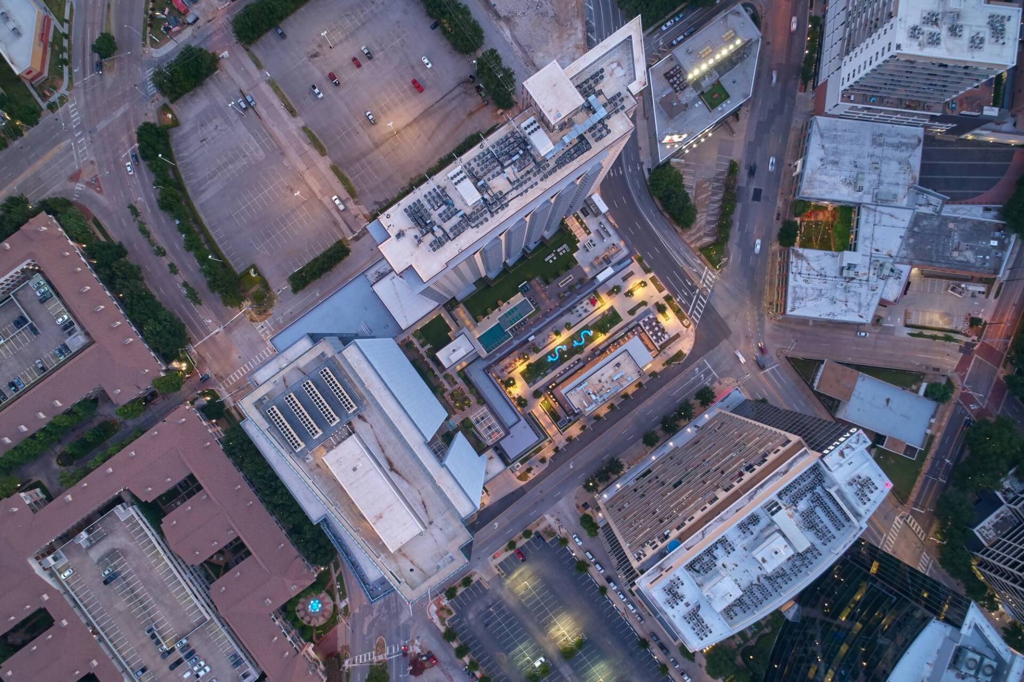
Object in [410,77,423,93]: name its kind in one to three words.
vehicle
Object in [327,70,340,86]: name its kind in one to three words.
vehicle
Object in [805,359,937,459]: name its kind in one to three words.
building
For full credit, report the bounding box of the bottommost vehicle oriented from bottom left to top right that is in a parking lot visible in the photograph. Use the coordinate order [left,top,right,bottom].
[532,656,547,670]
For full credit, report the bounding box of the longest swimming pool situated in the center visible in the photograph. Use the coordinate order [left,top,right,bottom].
[477,297,536,355]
